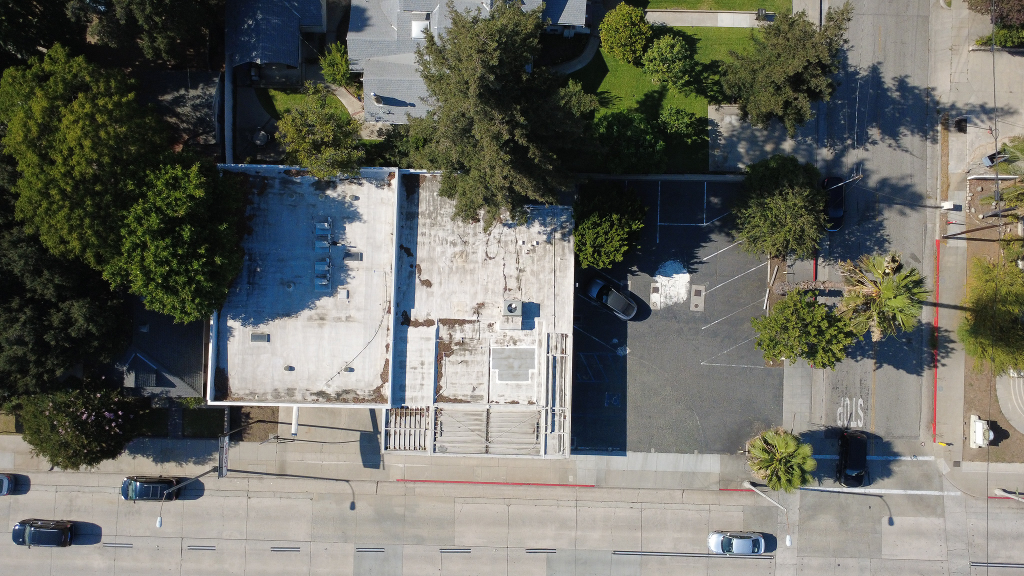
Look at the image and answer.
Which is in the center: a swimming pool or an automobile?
automobile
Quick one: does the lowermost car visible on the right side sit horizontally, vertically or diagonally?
horizontally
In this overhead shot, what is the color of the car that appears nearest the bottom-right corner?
black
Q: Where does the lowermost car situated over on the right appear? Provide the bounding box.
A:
[707,530,768,560]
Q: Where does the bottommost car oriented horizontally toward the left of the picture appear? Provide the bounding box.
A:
[11,518,75,550]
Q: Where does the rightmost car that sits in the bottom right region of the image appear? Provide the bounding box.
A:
[833,429,866,488]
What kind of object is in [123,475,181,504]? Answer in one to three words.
car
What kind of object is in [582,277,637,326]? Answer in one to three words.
car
